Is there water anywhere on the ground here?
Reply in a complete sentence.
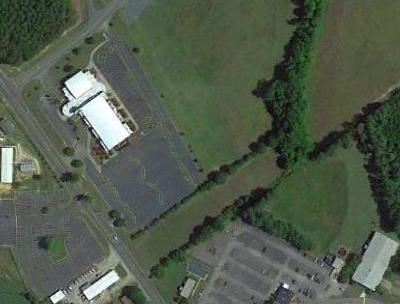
No, water can't be seen anywhere here.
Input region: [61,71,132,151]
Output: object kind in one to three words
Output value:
building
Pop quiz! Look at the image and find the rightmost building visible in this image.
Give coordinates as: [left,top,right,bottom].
[353,231,400,290]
